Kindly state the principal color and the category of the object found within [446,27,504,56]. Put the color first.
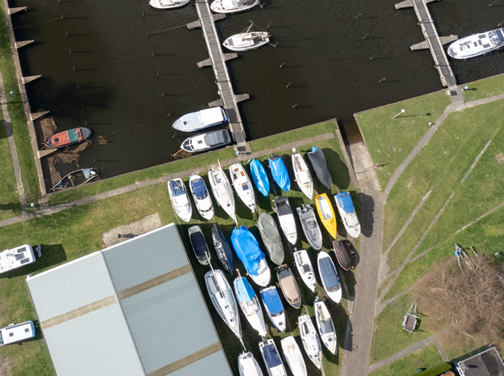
white boat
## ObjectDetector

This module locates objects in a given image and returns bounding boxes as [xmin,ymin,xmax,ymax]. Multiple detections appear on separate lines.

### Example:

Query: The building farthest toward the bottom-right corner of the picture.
[448,345,504,376]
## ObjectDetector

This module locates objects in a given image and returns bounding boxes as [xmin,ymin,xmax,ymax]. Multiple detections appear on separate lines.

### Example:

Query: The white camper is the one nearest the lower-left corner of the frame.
[0,319,38,347]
